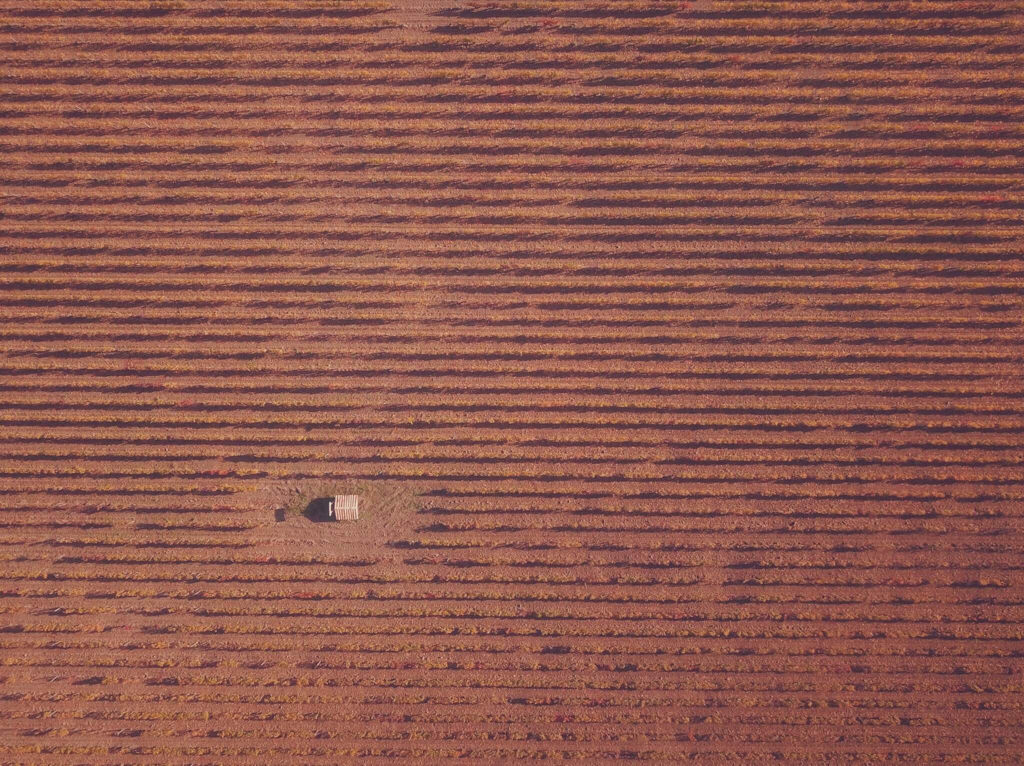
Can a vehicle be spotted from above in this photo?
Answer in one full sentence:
No, no vehicle is visible in the scene.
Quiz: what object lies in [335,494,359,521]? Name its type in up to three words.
shed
